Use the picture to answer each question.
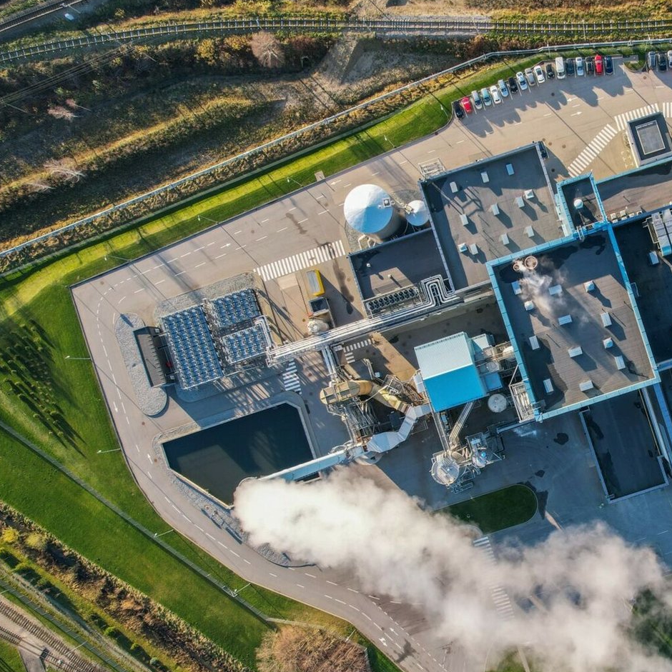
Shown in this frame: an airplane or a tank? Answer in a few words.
tank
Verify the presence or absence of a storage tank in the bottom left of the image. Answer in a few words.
No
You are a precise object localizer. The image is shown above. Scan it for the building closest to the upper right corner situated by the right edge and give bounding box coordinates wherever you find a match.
[626,113,672,169]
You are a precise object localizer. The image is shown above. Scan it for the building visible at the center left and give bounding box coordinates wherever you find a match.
[133,326,174,387]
